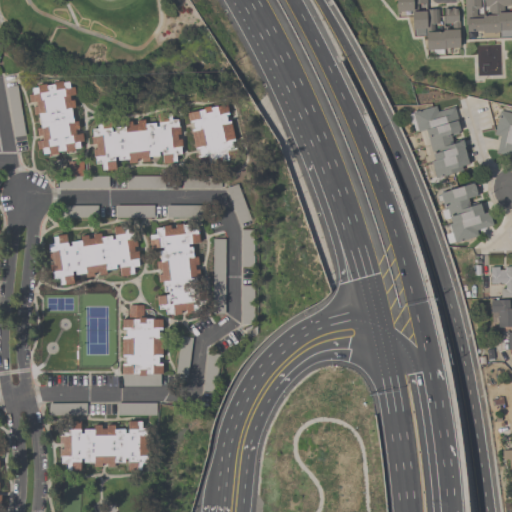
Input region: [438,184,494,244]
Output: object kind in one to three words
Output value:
house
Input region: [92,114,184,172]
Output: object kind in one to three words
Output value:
building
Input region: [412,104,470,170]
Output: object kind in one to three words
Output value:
house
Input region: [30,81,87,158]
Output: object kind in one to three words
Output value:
building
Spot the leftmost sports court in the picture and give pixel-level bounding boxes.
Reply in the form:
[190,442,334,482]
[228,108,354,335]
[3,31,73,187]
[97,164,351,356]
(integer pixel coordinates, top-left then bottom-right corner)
[43,296,78,314]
